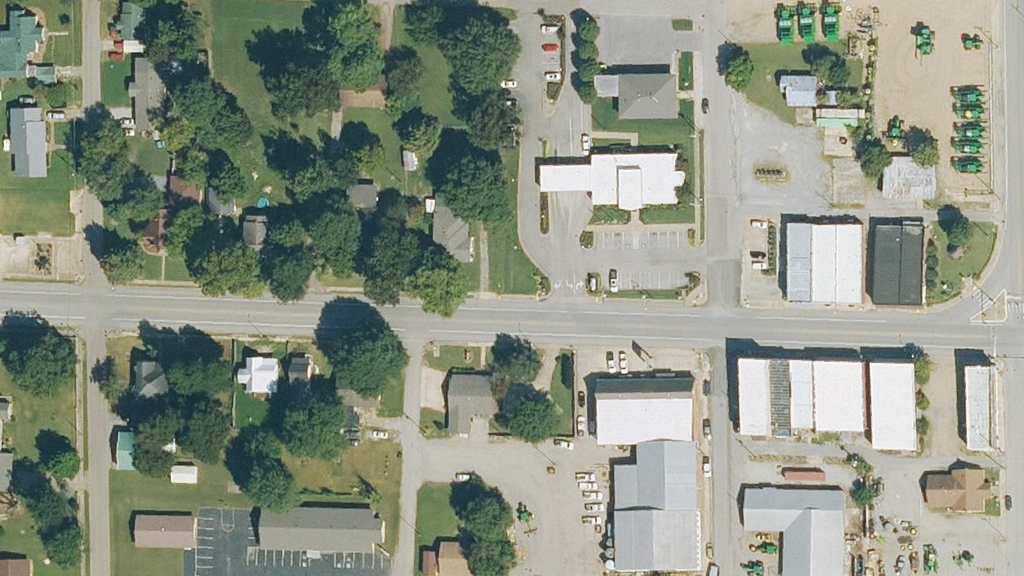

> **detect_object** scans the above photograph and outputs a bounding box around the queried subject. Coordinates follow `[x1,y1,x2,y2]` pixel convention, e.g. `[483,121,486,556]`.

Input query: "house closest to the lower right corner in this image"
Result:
[926,469,990,514]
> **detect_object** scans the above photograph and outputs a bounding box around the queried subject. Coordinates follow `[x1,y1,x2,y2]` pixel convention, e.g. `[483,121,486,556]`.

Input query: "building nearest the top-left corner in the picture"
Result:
[0,11,45,76]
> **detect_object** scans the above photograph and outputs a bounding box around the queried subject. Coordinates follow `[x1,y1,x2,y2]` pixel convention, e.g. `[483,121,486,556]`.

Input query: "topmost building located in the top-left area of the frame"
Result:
[109,1,144,38]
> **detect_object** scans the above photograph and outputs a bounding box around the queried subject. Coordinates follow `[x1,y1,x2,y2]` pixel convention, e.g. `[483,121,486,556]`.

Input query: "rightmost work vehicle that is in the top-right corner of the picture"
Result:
[964,37,982,49]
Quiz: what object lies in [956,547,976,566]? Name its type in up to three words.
work vehicle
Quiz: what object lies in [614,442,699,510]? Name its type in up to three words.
building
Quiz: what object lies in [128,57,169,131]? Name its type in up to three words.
house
